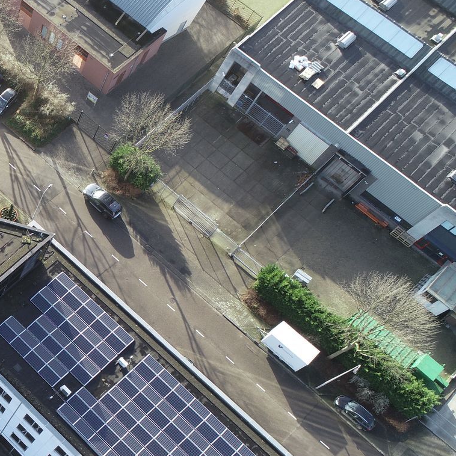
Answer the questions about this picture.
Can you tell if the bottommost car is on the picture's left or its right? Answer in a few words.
right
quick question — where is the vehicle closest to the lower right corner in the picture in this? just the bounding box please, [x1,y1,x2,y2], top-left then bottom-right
[331,392,382,433]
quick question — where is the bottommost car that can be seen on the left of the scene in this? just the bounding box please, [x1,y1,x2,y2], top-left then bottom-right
[84,183,124,218]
